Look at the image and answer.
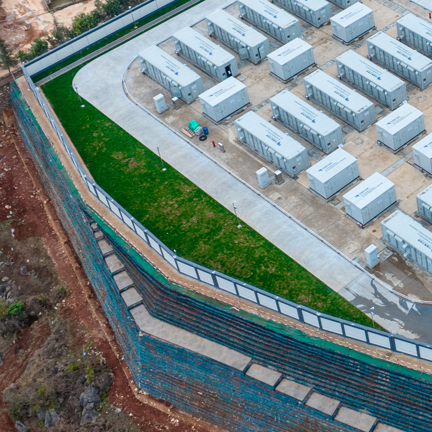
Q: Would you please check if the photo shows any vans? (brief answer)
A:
No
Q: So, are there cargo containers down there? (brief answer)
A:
Yes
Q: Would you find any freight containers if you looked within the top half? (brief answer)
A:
Yes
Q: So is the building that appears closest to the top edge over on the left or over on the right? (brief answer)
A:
right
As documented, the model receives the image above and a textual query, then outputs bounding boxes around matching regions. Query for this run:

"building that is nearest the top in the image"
[330,1,379,45]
